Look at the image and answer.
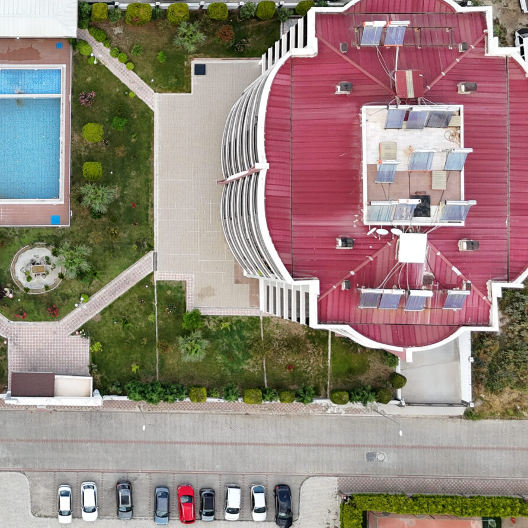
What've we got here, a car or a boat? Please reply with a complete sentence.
The one in the frame is a car.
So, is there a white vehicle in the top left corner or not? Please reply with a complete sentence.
No, looking in the top left corner, there is no white vehicle.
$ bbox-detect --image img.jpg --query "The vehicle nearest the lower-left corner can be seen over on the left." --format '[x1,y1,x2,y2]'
[56,485,73,525]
